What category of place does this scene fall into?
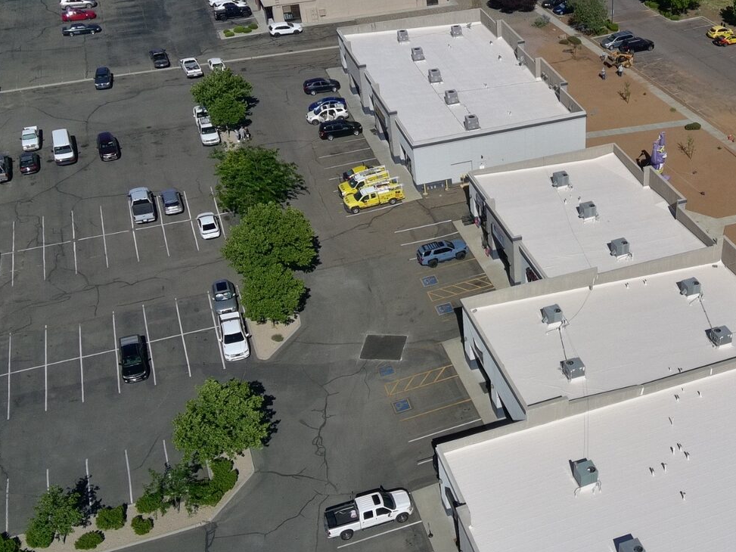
parking lot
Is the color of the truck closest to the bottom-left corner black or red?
black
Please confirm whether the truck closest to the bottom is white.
Yes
